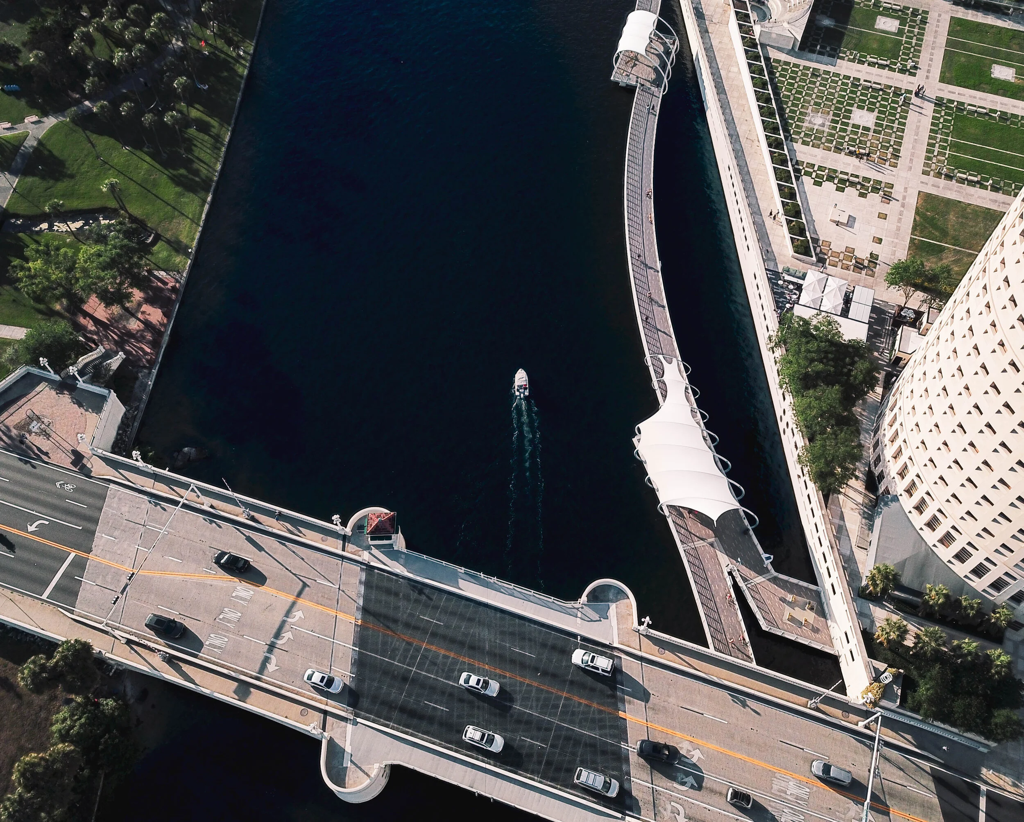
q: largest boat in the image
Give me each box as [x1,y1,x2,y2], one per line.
[513,366,530,399]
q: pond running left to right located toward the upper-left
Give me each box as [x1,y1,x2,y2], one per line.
[1,212,121,233]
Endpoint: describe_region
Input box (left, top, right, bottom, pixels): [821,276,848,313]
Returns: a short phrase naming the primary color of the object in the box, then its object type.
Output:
white tent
